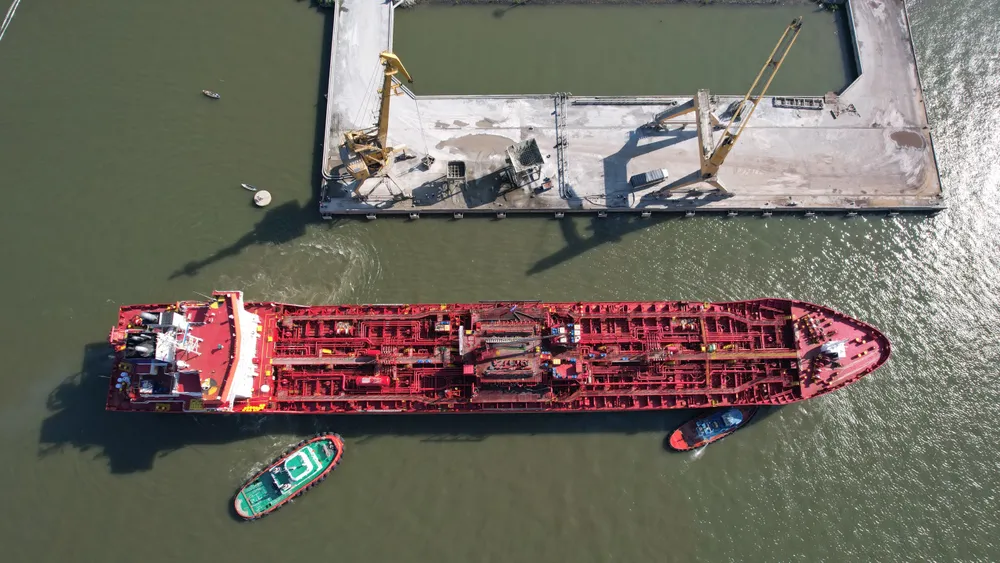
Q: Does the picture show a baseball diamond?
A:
No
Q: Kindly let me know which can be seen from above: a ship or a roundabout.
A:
ship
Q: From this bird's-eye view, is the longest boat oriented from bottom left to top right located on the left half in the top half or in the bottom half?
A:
bottom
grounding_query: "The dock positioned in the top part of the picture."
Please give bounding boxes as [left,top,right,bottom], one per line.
[319,0,946,222]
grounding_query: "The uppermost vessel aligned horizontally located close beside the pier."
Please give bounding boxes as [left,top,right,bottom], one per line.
[103,290,892,413]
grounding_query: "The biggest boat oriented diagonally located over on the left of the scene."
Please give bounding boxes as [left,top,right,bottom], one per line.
[235,433,346,522]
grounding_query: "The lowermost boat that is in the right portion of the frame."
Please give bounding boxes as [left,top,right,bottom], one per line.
[666,409,759,458]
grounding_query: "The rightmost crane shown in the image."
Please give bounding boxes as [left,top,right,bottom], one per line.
[646,8,809,192]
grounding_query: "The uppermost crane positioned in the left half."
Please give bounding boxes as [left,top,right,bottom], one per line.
[340,50,428,192]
